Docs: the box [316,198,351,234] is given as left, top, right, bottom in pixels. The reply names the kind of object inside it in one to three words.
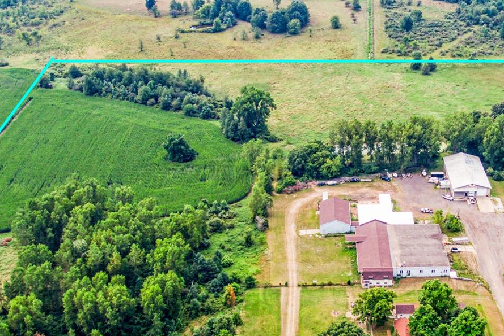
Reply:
building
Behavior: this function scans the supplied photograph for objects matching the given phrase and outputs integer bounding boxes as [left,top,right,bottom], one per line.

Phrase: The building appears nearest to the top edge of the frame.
[443,154,492,201]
